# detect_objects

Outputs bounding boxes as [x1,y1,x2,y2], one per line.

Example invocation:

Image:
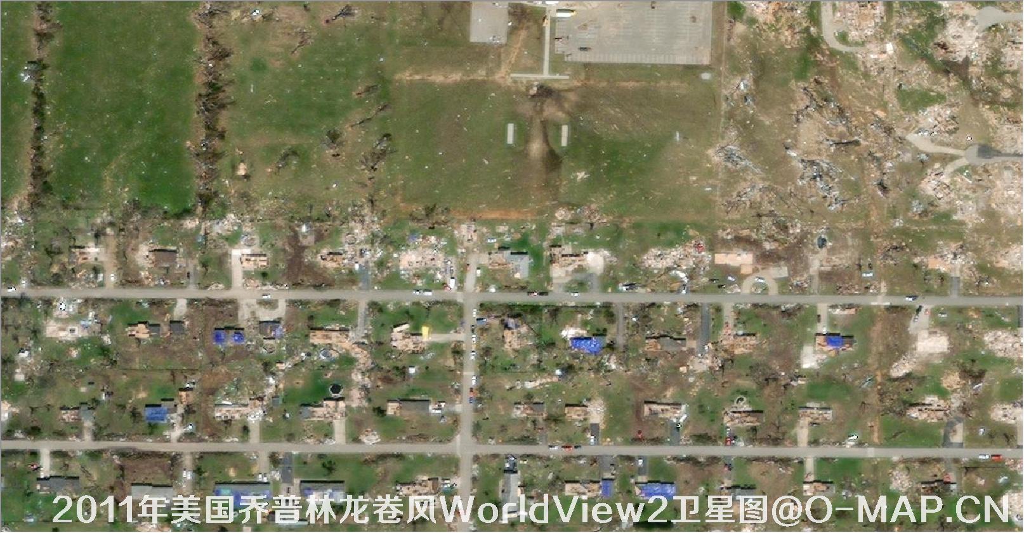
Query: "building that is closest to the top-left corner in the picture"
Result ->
[67,245,111,269]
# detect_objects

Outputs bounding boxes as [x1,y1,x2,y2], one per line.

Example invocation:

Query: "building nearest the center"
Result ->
[484,247,534,284]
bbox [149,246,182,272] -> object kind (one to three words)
house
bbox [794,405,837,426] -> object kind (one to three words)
house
